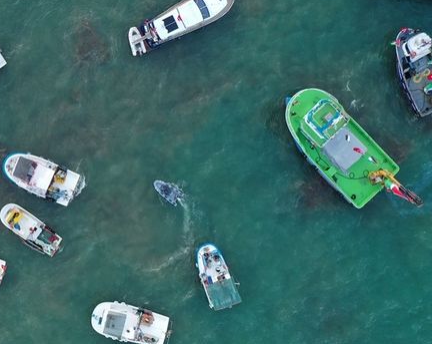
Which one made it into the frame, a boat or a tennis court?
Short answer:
boat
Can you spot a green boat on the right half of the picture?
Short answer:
Yes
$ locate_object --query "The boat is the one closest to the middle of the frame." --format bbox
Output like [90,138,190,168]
[154,180,184,205]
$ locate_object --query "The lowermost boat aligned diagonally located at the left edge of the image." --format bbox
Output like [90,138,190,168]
[0,205,64,257]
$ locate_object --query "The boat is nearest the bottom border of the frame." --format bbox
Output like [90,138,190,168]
[92,300,171,344]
